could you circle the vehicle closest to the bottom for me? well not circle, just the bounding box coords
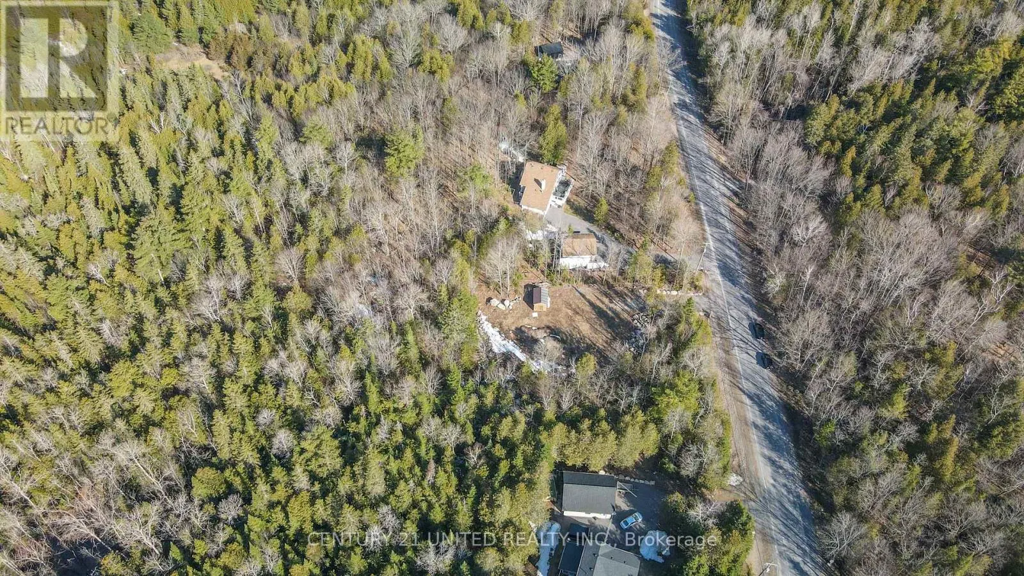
[617,510,644,531]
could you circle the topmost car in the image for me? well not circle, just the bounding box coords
[752,322,766,340]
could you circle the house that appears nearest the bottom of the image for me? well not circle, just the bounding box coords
[557,539,643,576]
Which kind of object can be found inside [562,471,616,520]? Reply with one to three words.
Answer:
building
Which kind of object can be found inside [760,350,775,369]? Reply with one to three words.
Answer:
car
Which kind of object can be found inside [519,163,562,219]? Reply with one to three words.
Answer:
house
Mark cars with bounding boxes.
[752,322,766,340]
[617,510,644,531]
[760,350,775,369]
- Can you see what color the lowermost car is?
blue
